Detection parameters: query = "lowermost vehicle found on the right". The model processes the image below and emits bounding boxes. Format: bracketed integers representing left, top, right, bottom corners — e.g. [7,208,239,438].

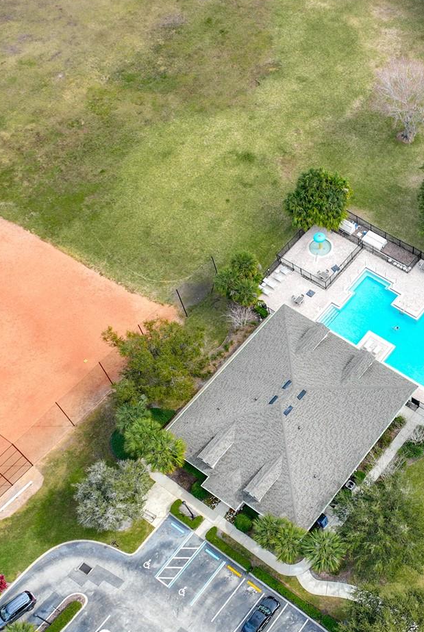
[239,595,279,632]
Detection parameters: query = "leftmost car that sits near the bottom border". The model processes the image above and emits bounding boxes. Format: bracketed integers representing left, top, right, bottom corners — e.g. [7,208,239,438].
[0,587,35,630]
